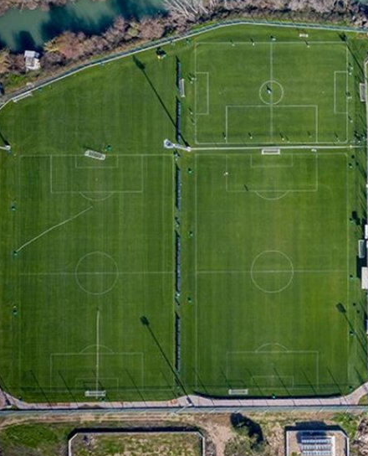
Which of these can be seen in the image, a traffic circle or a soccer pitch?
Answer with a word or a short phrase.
soccer pitch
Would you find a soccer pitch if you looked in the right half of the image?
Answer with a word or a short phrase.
Yes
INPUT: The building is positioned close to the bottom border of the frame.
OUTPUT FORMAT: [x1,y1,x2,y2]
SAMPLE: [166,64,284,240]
[300,434,337,456]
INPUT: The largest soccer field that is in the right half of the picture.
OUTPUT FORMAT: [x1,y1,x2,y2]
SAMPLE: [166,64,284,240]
[193,151,350,391]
